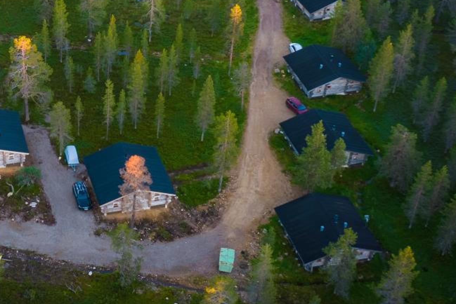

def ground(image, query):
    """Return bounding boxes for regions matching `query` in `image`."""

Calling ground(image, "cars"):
[70,177,94,212]
[286,38,307,53]
[281,91,314,115]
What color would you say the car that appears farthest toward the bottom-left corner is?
blue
